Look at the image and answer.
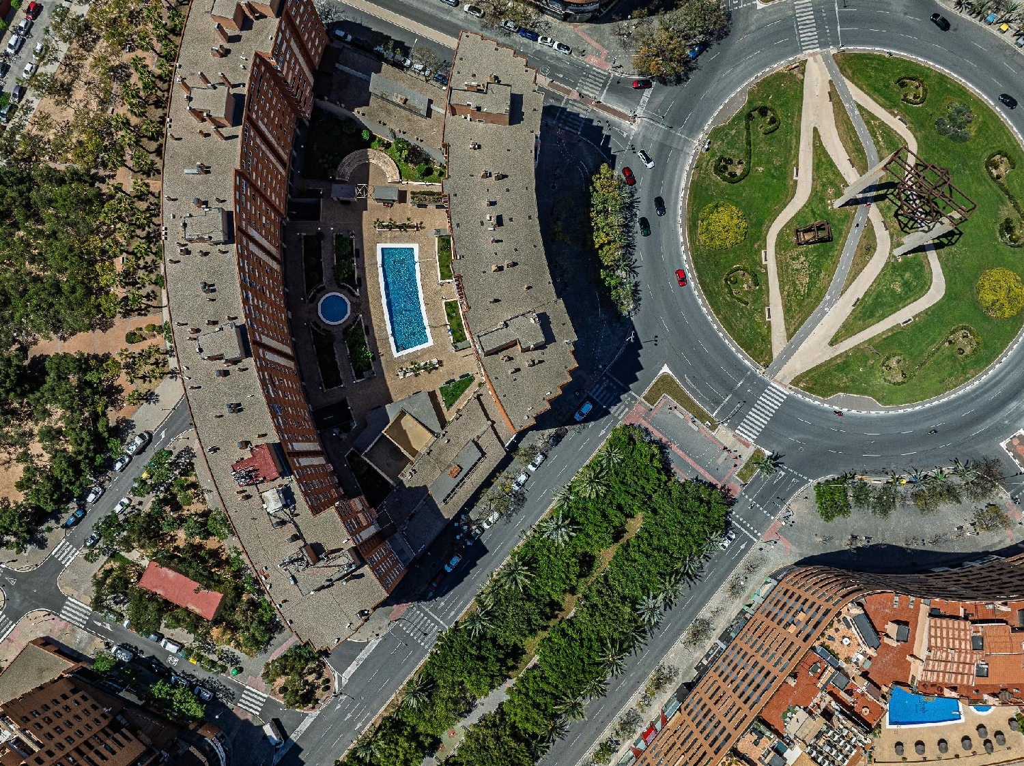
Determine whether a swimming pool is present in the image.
Yes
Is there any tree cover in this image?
Yes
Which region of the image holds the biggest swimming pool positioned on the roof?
bottom right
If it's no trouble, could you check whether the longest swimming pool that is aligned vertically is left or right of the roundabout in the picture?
left of it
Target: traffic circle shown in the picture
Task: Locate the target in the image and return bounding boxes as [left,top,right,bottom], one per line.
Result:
[678,50,1024,414]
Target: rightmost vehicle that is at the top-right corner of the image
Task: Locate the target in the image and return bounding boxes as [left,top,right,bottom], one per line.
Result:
[998,91,1021,109]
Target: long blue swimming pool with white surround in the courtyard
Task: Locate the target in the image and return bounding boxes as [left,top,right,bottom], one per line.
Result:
[377,243,433,357]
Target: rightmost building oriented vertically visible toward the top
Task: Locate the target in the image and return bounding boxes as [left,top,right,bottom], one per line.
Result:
[442,30,578,435]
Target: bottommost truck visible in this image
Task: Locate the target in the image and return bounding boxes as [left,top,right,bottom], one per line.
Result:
[257,717,283,753]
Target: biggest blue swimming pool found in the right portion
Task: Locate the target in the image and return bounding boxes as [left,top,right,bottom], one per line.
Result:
[886,684,965,728]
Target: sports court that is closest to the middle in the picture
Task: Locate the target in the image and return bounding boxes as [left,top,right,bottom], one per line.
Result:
[382,407,438,459]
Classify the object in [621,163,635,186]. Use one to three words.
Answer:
car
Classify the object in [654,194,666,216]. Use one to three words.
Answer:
vehicle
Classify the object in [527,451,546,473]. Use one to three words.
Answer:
car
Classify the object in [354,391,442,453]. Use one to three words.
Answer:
building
